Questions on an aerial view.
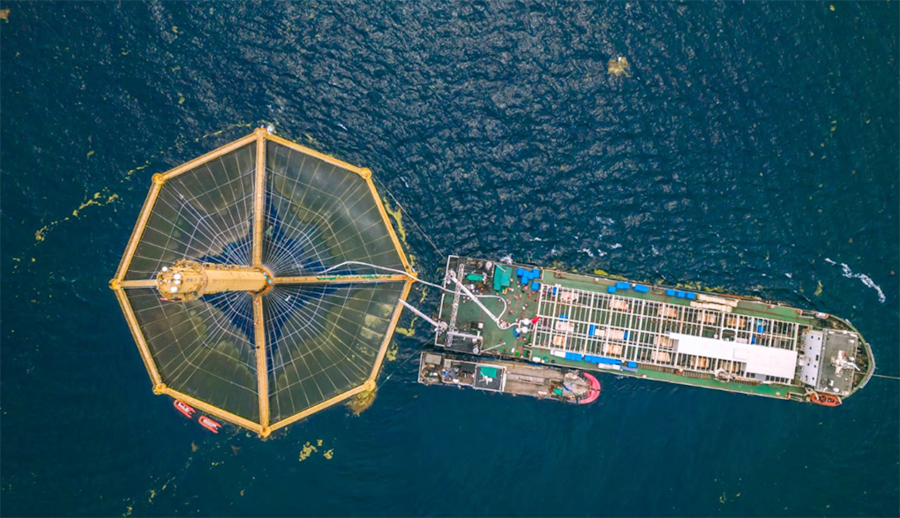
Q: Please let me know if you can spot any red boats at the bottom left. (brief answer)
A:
Yes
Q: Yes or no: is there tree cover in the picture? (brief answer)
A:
No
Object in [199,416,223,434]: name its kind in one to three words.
boat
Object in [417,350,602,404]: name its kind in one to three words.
boat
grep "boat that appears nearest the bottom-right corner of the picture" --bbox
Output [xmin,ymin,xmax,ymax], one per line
[809,393,843,407]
